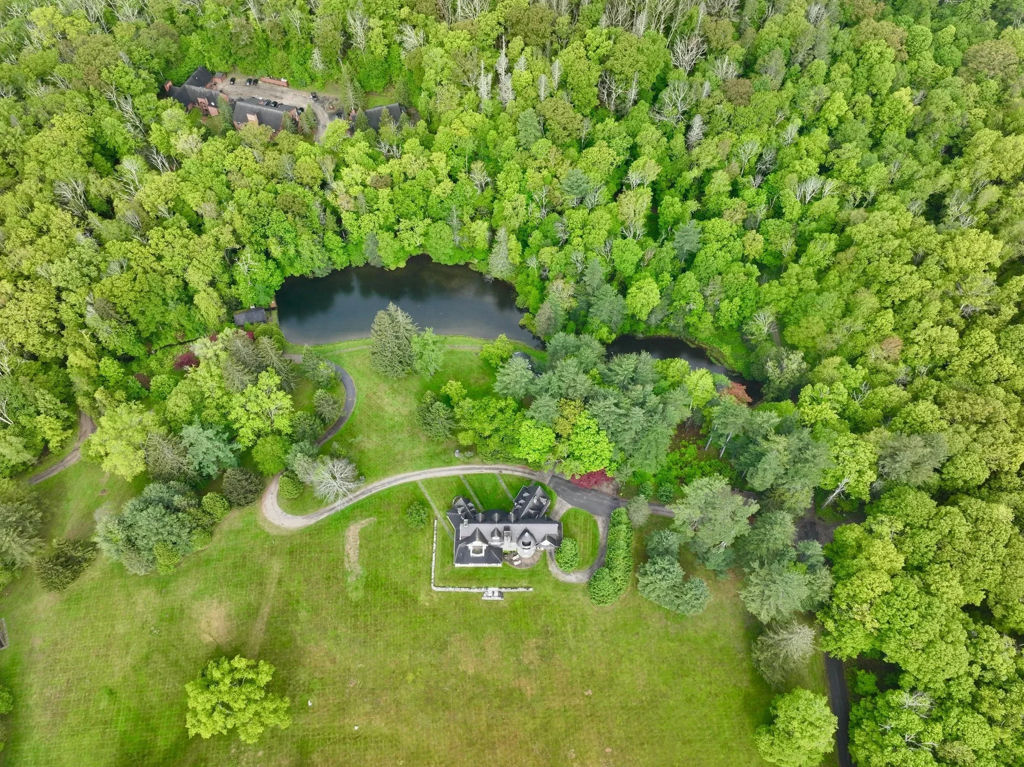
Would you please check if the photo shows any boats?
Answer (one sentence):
No, there appears to be no boat in this shot.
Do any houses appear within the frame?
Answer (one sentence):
Yes, the photo shows a house.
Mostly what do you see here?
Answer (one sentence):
The scene is dominated by trees.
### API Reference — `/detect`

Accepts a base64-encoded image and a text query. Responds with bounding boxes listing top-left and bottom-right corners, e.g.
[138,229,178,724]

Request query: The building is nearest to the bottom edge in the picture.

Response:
[446,485,564,569]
